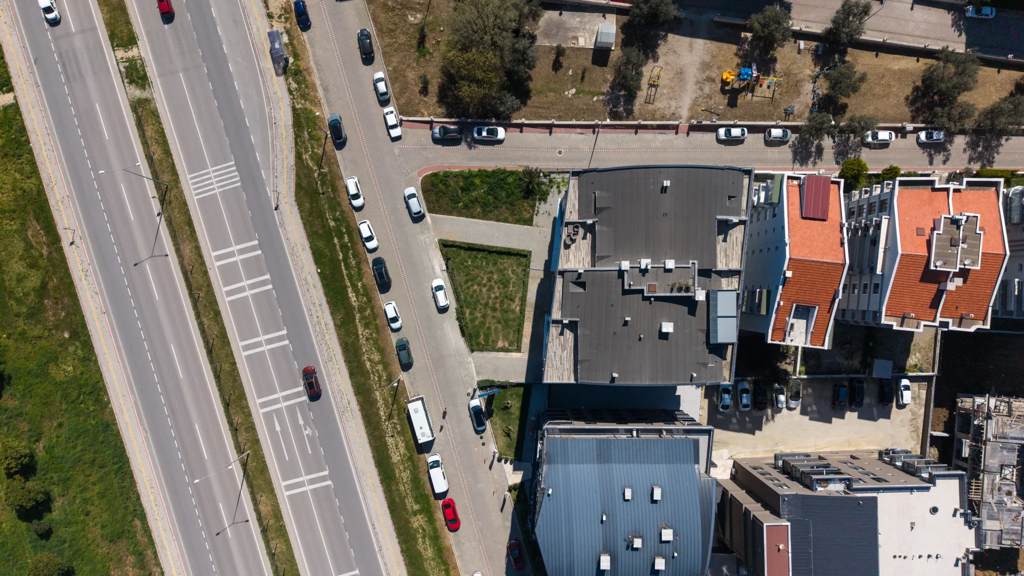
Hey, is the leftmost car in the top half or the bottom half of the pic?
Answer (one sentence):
You can find the leftmost car in the top half.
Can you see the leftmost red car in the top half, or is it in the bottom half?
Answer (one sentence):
It is in the top half that the leftmost red car appears.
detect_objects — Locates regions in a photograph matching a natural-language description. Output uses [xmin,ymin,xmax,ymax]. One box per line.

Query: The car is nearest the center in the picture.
[431,278,449,310]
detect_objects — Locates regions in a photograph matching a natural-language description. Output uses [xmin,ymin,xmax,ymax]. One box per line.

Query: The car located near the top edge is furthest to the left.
[38,0,61,25]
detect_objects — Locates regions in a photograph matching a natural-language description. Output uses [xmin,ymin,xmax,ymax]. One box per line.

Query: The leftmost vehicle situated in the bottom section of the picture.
[302,365,322,399]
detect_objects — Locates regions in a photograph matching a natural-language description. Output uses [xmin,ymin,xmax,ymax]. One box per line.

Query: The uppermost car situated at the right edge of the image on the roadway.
[963,3,997,20]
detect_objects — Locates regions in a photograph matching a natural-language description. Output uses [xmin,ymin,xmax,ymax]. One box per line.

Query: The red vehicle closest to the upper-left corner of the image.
[157,0,177,21]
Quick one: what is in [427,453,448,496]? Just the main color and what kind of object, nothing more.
white vehicle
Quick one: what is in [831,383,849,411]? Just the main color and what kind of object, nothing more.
black car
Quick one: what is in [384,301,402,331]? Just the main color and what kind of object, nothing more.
white car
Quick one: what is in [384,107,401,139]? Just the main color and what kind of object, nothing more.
white car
